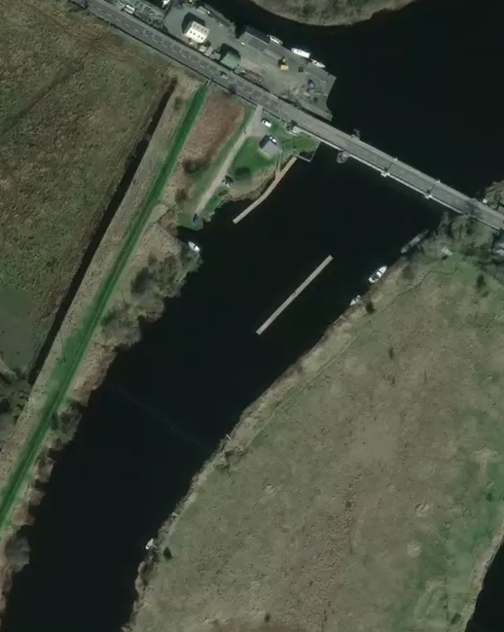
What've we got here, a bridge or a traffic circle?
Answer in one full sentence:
The image shows a bridge.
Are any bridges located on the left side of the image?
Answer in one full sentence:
No, the scene shows no bridge on the left side of the image.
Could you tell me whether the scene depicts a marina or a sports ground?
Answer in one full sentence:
The picture captures a marina.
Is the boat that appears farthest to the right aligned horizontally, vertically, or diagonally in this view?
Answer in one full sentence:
What the image shows is the boat that appears farthest to the right lying diagonally.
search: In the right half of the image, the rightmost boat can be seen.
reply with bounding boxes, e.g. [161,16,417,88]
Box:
[403,230,428,252]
